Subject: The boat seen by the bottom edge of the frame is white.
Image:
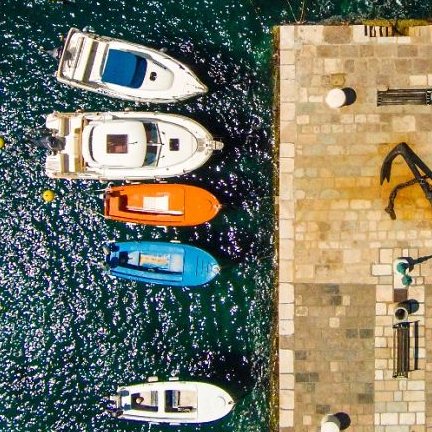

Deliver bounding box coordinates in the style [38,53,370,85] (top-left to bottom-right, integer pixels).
[96,376,278,424]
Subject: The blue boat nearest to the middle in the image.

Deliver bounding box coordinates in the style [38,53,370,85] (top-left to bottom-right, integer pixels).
[93,239,275,287]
